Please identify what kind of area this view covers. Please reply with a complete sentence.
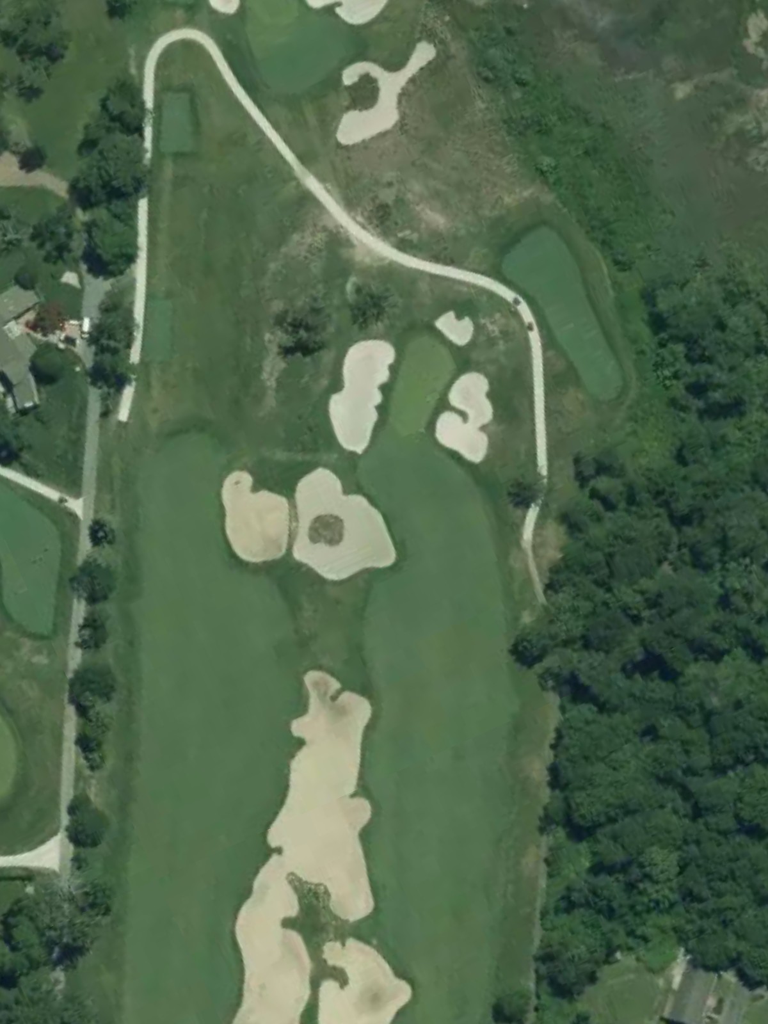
The picture captures a golf course.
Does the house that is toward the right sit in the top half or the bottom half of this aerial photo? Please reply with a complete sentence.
The house that is toward the right sits in the bottom half of the picture.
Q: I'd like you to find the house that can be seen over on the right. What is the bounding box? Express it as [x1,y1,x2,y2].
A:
[669,965,719,1024]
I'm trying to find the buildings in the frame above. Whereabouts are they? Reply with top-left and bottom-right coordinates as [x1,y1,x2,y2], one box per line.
[0,284,41,408]
[669,965,719,1024]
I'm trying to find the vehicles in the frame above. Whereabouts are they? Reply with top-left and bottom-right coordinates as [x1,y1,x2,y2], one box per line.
[528,322,533,330]
[58,497,66,504]
[514,297,521,305]
[64,336,76,344]
[81,315,89,337]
